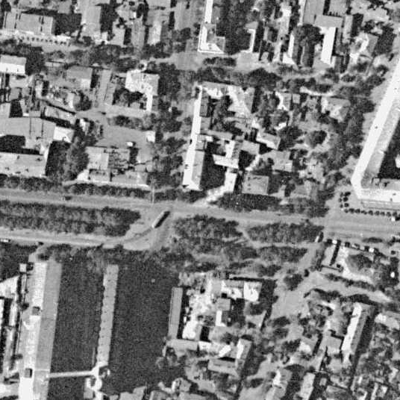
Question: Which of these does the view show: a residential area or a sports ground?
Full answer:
It's a residential area.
